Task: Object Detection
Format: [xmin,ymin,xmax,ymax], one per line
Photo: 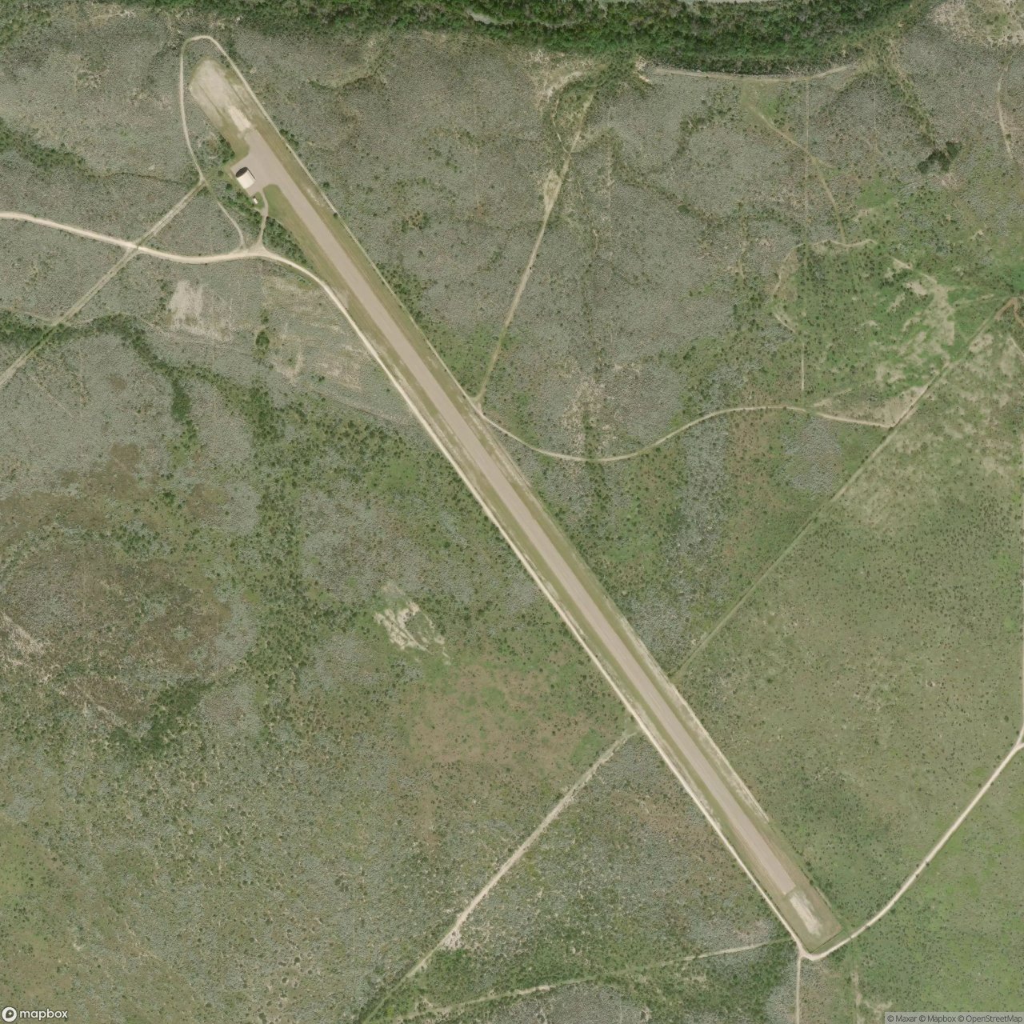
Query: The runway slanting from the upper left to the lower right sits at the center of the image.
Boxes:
[231,130,796,894]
